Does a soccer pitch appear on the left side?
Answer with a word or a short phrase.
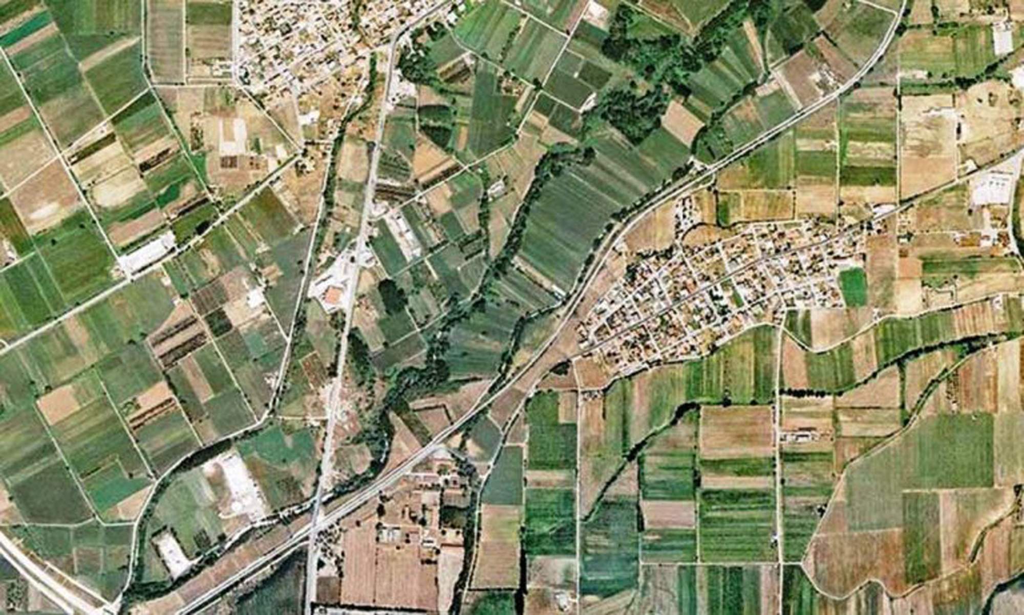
No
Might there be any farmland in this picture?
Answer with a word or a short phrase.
Yes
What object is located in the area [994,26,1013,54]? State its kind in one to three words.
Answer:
building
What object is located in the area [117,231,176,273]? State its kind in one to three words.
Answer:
building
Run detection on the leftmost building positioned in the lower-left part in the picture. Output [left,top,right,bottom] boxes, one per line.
[159,537,189,574]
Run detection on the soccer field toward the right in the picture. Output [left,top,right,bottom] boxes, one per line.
[841,269,867,307]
